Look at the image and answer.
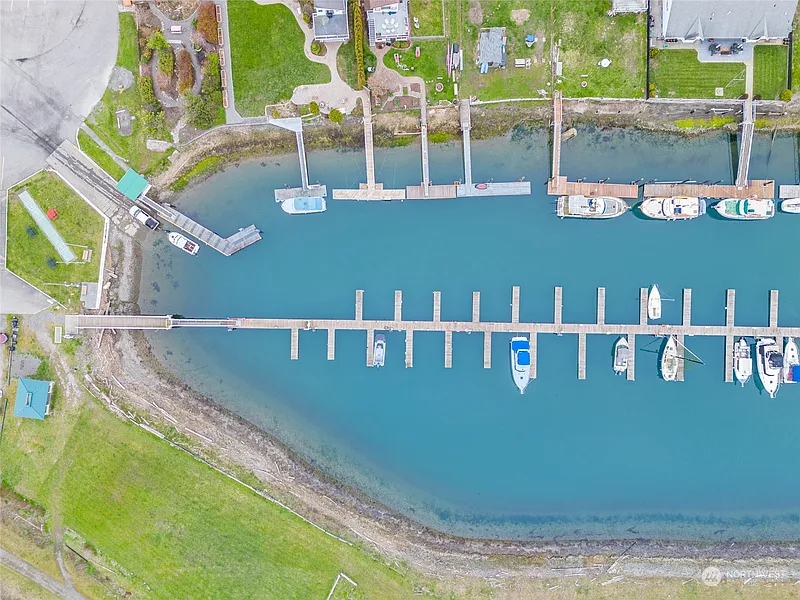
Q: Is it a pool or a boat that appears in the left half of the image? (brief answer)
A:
boat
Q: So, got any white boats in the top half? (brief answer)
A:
Yes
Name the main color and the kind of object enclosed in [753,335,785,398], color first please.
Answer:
white boat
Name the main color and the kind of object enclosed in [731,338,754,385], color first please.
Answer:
white boat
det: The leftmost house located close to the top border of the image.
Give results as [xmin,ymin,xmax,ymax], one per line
[312,0,347,44]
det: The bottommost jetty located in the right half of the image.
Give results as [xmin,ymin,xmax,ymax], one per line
[227,286,800,383]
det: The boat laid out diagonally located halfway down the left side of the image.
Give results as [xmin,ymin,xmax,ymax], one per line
[169,234,200,255]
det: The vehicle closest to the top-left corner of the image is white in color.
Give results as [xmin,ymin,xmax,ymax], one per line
[125,201,162,232]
